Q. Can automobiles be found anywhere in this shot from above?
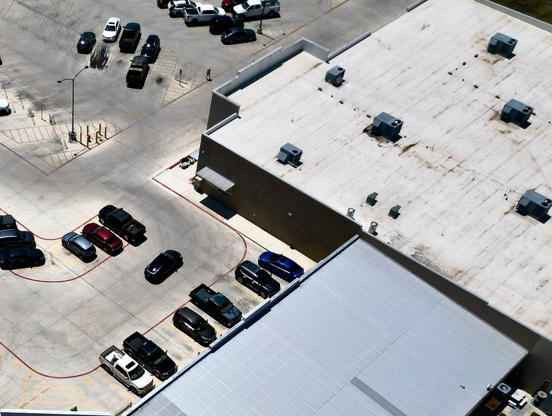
Yes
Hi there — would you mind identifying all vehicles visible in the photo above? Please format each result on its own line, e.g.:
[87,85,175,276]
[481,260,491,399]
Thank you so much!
[0,249,45,271]
[97,205,149,242]
[103,19,121,43]
[0,102,10,118]
[119,23,141,52]
[120,331,179,378]
[156,0,171,10]
[97,346,155,395]
[171,307,217,347]
[125,56,149,87]
[143,253,185,285]
[0,215,19,230]
[189,283,244,328]
[77,35,96,55]
[257,254,305,283]
[182,2,227,24]
[60,236,99,263]
[168,0,200,17]
[233,260,281,296]
[0,229,36,253]
[141,35,160,61]
[81,226,125,255]
[220,29,256,47]
[220,0,251,12]
[208,15,244,35]
[231,0,283,21]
